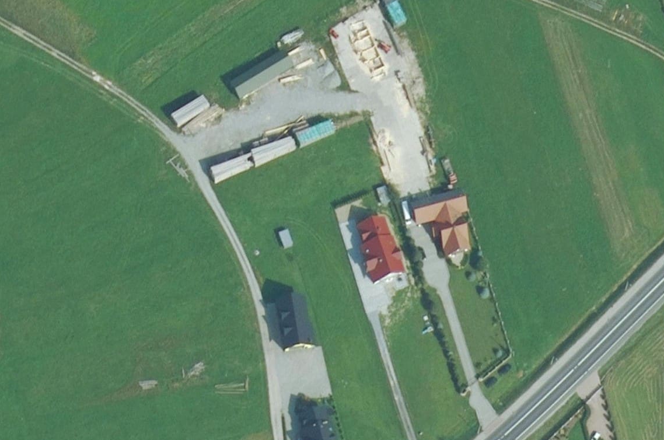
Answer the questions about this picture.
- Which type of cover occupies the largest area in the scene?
grass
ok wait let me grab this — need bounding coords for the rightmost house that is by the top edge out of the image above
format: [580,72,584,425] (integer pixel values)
[349,20,386,80]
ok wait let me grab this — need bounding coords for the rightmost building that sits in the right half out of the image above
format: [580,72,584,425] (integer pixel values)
[411,194,473,266]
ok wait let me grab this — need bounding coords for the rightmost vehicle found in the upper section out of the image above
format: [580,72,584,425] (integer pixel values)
[442,159,457,184]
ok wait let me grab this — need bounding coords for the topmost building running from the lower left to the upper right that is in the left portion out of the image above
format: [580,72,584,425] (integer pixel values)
[229,49,294,100]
